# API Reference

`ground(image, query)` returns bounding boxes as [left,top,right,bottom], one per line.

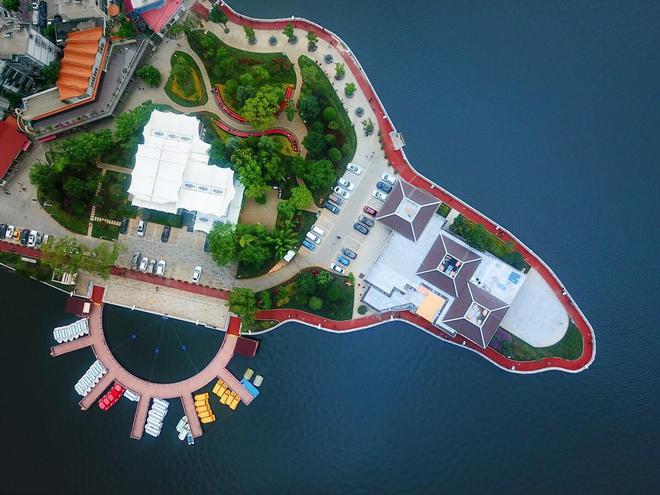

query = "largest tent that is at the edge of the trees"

[128,109,238,234]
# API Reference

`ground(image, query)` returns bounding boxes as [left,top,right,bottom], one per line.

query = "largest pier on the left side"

[50,301,254,439]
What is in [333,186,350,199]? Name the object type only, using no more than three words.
vehicle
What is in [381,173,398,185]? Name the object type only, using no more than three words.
vehicle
